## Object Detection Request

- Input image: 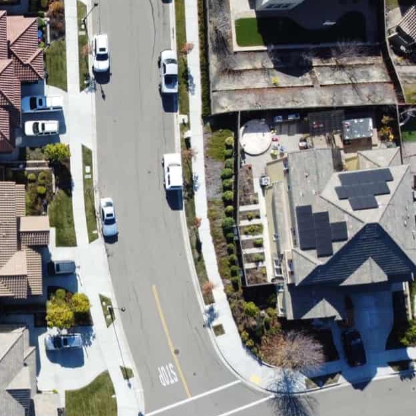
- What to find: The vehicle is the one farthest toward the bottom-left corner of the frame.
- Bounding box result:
[44,333,83,352]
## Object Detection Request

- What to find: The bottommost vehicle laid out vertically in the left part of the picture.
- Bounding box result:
[99,198,119,238]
